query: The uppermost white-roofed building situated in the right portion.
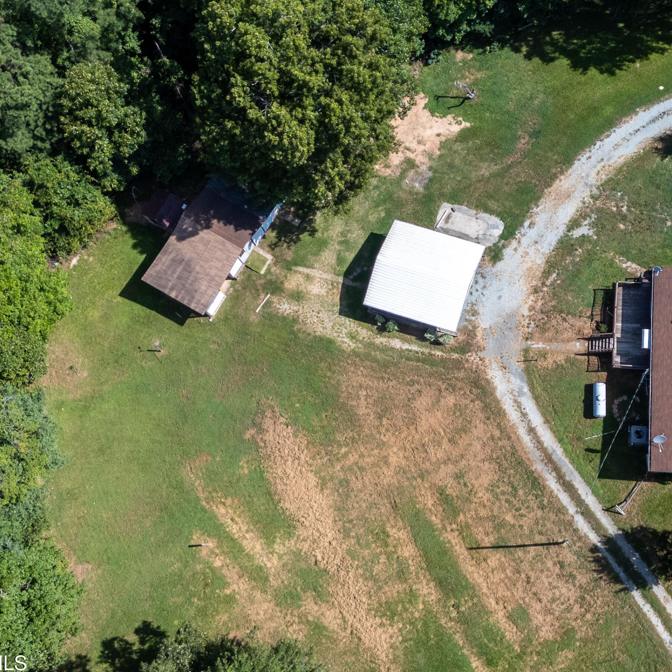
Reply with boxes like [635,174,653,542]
[362,219,487,337]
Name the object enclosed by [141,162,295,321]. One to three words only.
shed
